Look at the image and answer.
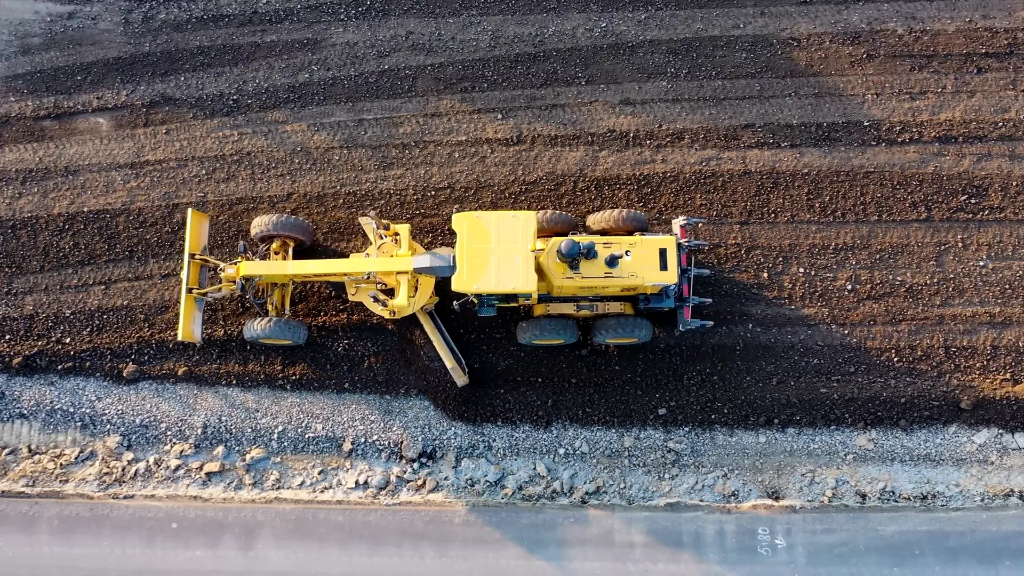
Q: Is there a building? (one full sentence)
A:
No, no building is visible in the view.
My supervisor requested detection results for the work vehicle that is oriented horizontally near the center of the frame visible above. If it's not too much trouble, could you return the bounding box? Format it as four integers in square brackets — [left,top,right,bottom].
[177,204,714,388]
